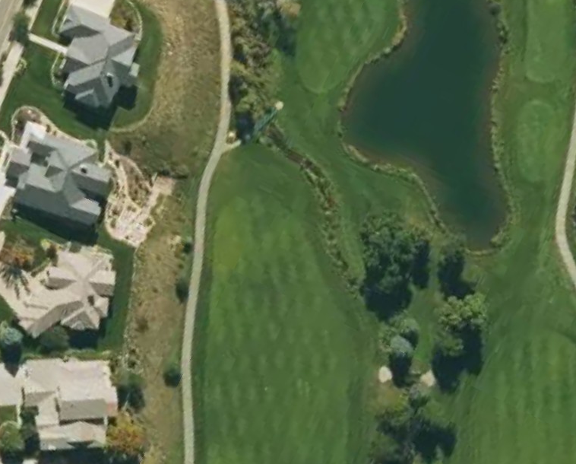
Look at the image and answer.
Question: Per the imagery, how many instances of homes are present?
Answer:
4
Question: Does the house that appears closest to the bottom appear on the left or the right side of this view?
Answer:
left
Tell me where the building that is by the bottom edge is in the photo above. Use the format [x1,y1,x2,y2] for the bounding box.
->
[23,358,115,451]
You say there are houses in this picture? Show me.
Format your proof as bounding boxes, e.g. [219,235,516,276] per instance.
[5,134,114,225]
[18,247,116,344]
[59,2,139,110]
[23,358,115,451]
